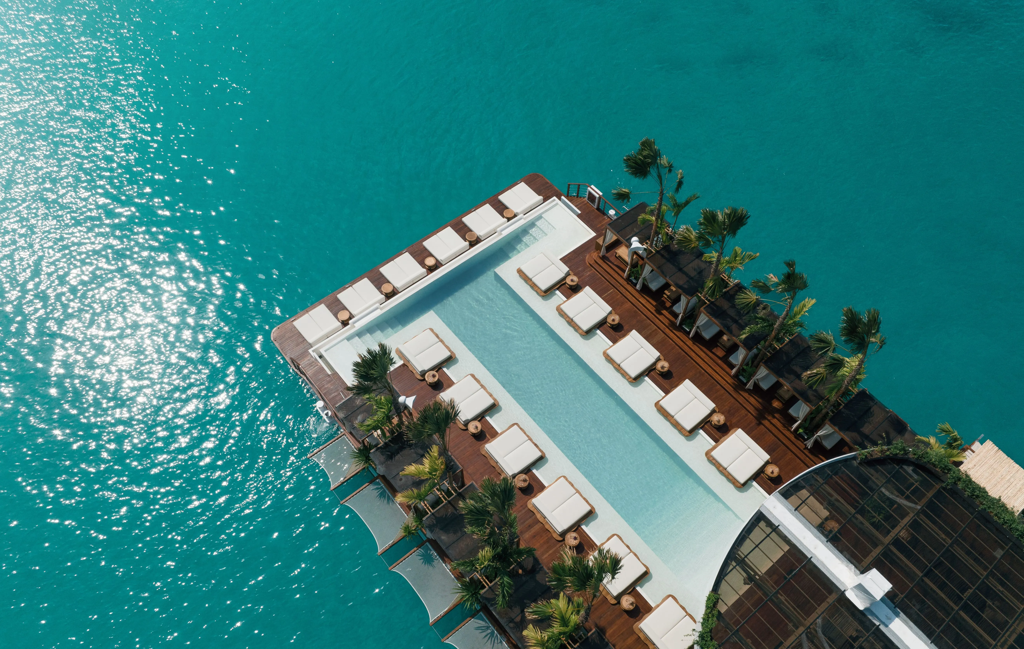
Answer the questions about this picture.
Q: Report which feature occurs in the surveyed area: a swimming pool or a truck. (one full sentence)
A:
The one in the frame is a swimming pool.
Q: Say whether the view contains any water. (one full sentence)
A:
Yes, some water is visible.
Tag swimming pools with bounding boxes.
[309,195,773,623]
